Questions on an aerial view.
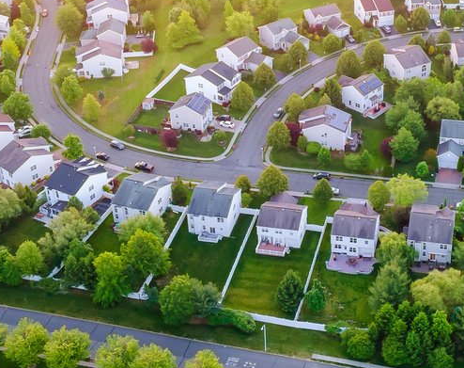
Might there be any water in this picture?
No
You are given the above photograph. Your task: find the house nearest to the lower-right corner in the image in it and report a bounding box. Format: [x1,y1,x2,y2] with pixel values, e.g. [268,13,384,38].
[405,207,457,259]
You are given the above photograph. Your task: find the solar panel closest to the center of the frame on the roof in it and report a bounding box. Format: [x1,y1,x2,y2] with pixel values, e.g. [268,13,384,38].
[187,94,213,118]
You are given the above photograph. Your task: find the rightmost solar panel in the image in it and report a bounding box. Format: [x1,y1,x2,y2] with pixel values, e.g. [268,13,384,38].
[356,76,381,98]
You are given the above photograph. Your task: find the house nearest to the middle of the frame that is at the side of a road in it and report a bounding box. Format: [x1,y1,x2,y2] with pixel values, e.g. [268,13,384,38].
[189,185,244,236]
